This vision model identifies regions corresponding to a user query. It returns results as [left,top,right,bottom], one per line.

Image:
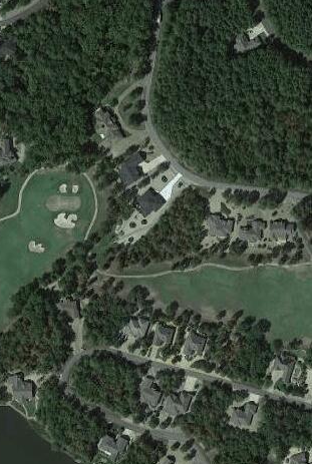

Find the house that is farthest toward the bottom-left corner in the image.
[10,376,33,399]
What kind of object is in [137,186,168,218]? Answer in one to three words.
house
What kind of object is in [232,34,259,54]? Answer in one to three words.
house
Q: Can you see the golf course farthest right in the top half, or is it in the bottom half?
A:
bottom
